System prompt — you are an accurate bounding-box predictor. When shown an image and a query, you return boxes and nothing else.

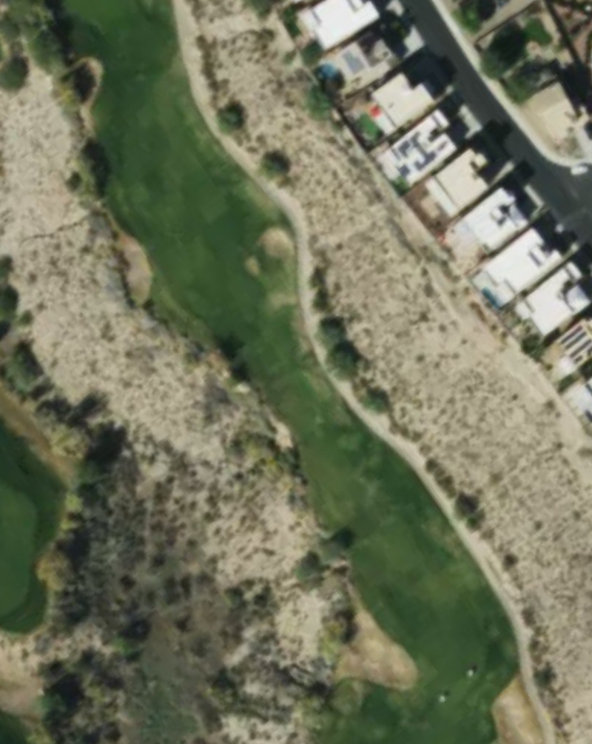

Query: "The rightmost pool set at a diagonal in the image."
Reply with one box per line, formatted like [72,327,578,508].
[481,286,500,311]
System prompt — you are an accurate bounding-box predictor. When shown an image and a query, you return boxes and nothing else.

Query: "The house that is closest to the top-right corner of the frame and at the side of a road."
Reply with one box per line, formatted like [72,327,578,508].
[530,82,577,140]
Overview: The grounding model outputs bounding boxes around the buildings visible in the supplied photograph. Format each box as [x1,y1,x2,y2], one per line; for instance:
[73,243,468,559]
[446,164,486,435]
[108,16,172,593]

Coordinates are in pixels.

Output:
[297,0,379,49]
[461,186,528,255]
[487,227,563,305]
[426,148,489,215]
[377,109,457,185]
[516,263,591,337]
[371,72,435,133]
[341,38,392,94]
[530,82,577,140]
[558,319,592,374]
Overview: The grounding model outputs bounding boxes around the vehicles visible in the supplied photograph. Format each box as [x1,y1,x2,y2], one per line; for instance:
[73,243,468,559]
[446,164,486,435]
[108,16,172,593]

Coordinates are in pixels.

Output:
[584,121,592,140]
[570,165,587,174]
[467,668,473,677]
[438,694,444,704]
